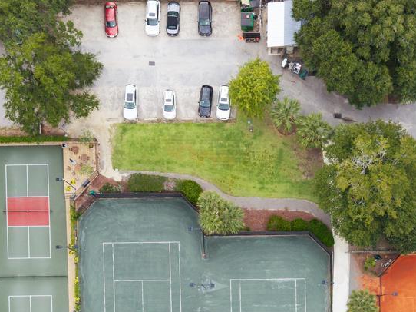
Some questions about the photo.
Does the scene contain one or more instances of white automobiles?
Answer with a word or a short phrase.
Yes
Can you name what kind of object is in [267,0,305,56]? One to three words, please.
shed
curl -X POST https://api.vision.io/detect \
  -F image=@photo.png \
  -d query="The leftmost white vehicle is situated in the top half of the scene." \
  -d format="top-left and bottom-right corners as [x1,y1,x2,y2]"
[122,85,139,120]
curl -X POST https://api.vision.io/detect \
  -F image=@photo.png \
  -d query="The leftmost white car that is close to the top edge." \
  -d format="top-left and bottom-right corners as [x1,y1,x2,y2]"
[145,1,162,36]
